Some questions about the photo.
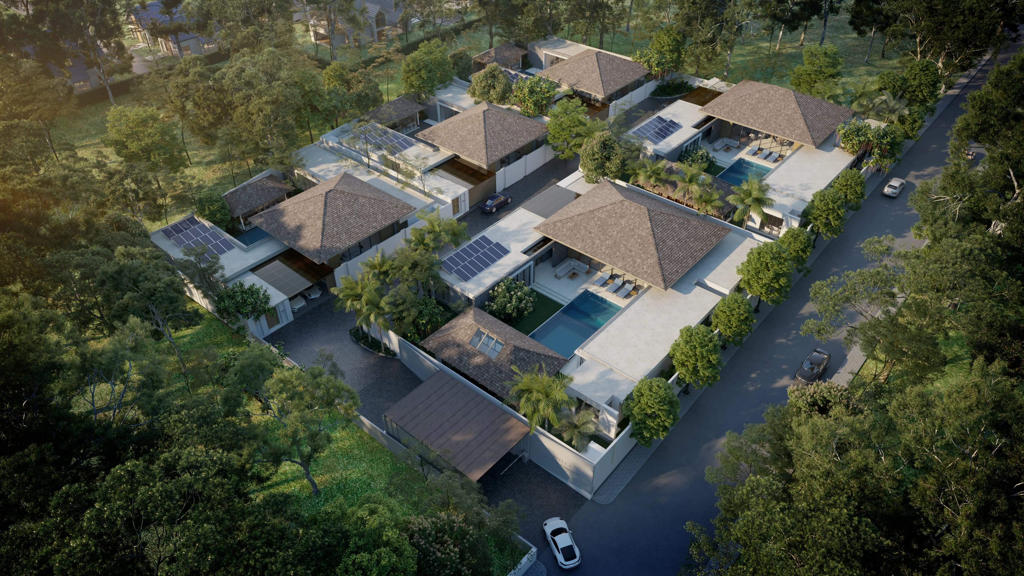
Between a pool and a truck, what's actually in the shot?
pool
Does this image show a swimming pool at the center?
Yes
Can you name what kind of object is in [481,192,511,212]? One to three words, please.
car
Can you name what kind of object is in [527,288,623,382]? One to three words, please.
swimming pool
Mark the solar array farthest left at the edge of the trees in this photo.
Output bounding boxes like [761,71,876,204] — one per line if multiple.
[159,216,235,261]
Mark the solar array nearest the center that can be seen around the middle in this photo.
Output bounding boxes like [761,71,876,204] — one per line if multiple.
[439,235,510,283]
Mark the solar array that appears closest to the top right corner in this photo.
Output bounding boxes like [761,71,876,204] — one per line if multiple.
[632,115,684,144]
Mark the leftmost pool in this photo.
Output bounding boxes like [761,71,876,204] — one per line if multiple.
[235,226,266,244]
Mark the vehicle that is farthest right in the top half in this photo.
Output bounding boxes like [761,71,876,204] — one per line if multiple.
[883,179,905,197]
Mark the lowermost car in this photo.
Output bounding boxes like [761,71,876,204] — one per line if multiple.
[545,517,579,572]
